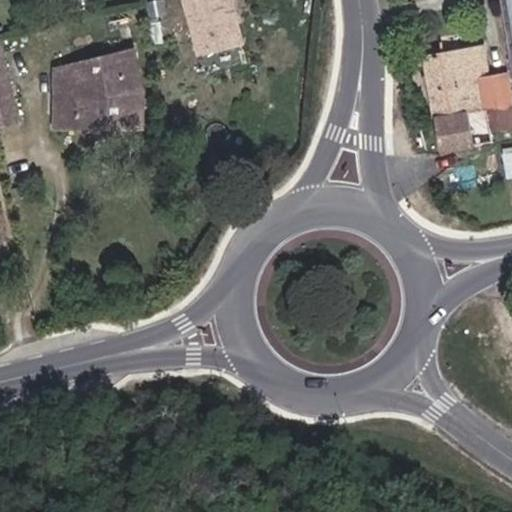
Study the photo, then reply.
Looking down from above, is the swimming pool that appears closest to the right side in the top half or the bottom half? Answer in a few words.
top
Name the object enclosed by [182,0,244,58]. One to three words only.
house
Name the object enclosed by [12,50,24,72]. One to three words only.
vehicle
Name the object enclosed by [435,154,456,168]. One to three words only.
car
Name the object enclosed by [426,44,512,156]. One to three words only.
house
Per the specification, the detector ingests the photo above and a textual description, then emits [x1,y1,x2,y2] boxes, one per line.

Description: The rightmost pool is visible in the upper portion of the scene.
[456,165,478,192]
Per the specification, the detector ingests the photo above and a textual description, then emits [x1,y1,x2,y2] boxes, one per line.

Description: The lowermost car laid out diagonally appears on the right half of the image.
[428,308,448,326]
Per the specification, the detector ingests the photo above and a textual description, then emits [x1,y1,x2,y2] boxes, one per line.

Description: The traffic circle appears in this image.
[214,184,444,414]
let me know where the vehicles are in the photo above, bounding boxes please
[428,308,448,326]
[8,163,29,174]
[491,46,502,68]
[38,72,48,92]
[435,154,456,168]
[305,378,325,388]
[12,50,24,72]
